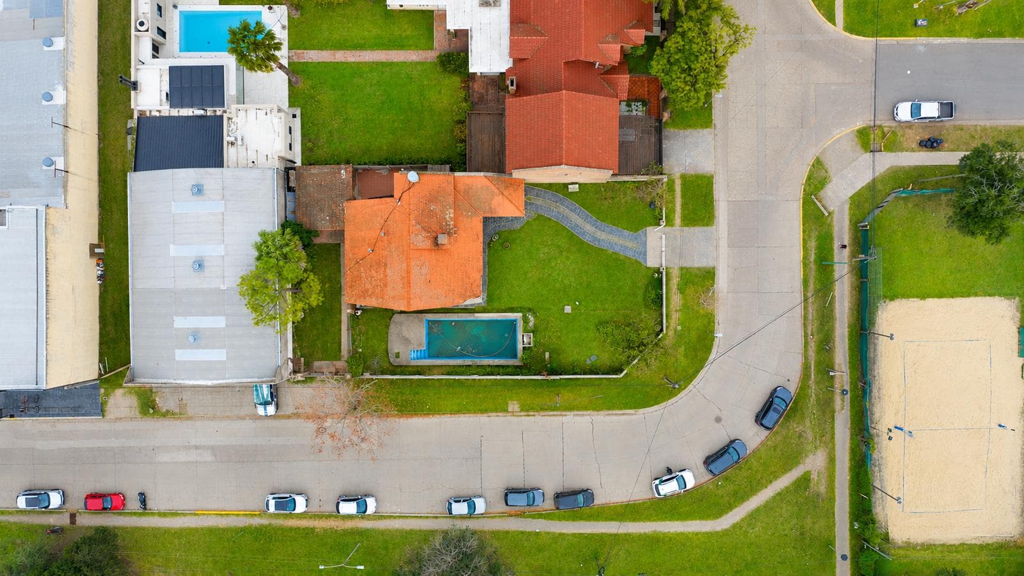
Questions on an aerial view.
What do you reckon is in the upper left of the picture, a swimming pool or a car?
swimming pool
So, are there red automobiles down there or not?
Yes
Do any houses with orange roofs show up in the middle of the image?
Yes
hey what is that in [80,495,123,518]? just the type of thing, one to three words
car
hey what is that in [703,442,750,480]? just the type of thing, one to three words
car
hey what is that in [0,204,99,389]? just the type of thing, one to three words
building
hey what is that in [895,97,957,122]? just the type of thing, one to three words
truck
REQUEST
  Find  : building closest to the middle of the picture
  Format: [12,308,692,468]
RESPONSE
[346,171,525,311]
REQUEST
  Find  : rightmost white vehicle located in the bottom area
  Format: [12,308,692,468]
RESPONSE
[653,472,697,501]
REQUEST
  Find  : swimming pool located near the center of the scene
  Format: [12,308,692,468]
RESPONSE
[389,313,523,365]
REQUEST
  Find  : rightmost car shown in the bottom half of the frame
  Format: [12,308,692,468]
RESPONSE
[757,387,794,435]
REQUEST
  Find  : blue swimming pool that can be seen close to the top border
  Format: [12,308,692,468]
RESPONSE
[174,5,266,56]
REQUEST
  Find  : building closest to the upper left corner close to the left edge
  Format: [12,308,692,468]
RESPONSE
[0,0,99,215]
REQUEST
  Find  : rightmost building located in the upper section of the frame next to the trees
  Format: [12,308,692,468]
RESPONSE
[506,0,653,181]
